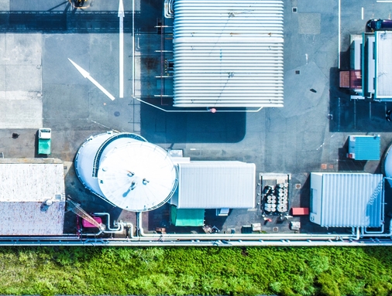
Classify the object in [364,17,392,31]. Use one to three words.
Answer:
vehicle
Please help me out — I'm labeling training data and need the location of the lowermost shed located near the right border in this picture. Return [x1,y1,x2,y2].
[307,171,383,227]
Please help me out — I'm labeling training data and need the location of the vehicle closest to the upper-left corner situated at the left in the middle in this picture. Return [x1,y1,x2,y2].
[35,128,50,155]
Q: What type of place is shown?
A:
industrial area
